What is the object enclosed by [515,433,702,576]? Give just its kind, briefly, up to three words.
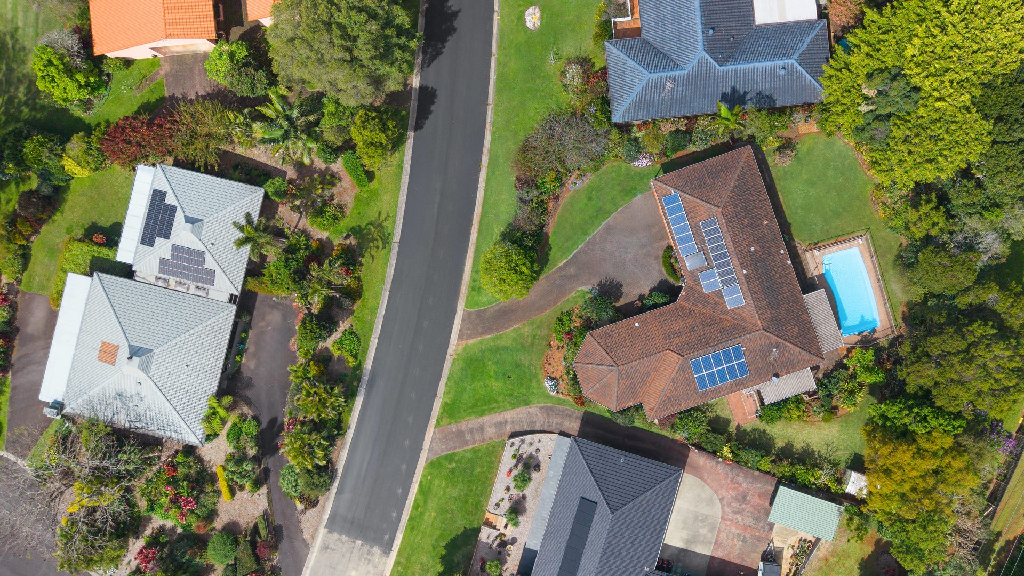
house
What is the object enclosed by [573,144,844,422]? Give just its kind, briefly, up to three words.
house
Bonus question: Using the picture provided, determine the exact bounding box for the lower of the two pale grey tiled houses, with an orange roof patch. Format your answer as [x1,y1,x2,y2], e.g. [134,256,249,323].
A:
[39,271,241,447]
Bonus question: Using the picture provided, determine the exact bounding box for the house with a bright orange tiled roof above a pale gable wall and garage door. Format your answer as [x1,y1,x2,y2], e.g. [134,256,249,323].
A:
[92,0,218,59]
